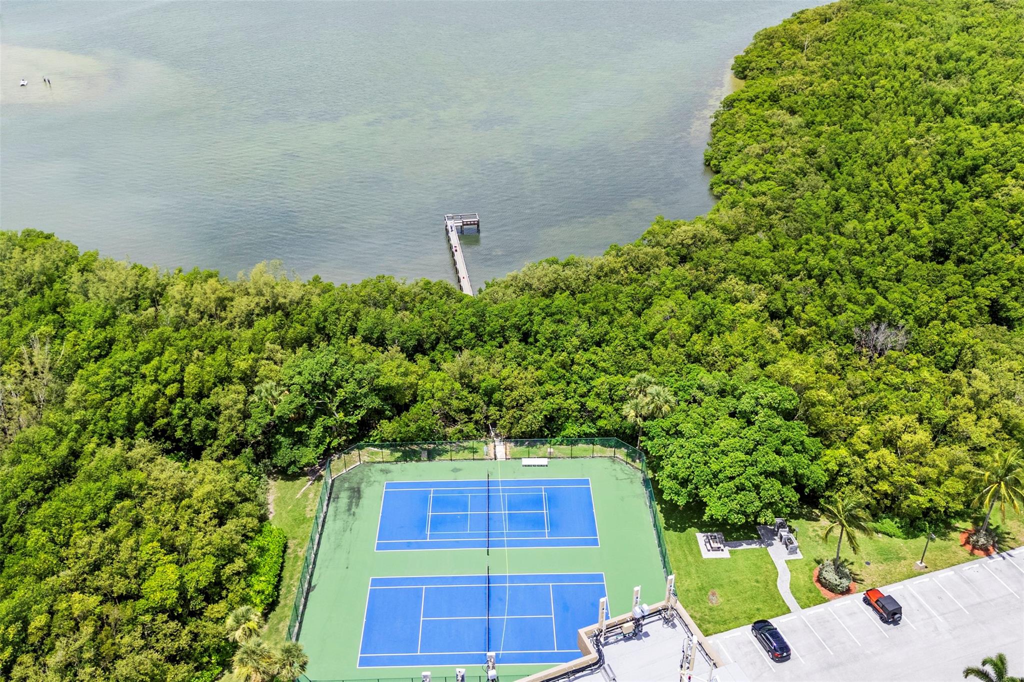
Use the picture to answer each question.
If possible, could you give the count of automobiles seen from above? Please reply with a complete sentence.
There are 2 automobiles in the image.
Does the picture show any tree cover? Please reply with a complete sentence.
Yes, the picture does contain tree cover.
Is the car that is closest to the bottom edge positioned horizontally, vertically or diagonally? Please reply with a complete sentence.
In this picture, the car that is closest to the bottom edge lies diagonally.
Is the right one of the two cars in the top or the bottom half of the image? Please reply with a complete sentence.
The right one of the two cars is in the bottom half of the image.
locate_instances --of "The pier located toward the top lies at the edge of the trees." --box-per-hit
[445,210,478,314]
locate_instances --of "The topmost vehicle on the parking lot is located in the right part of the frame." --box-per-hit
[861,589,903,625]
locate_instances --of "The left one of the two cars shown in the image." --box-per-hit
[752,619,795,663]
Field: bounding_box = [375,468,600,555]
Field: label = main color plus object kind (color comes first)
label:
blue tennis court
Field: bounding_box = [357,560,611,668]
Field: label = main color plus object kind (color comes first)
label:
blue tennis court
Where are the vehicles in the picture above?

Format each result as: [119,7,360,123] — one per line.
[752,619,795,663]
[861,589,903,625]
